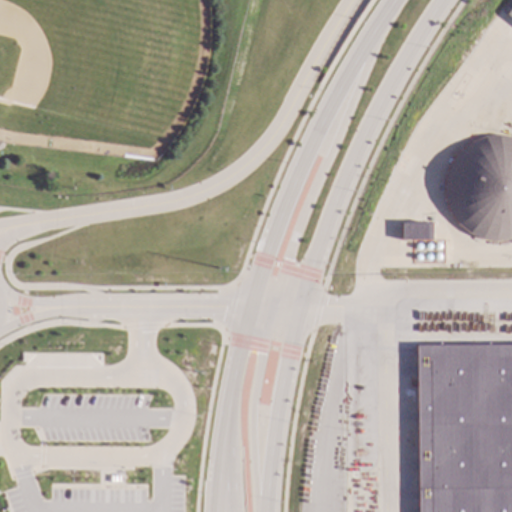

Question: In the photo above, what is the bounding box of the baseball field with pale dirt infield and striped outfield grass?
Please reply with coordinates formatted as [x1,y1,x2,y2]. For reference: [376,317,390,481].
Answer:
[0,0,213,160]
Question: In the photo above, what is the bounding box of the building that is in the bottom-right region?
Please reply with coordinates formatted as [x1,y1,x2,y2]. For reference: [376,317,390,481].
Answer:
[418,344,512,512]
